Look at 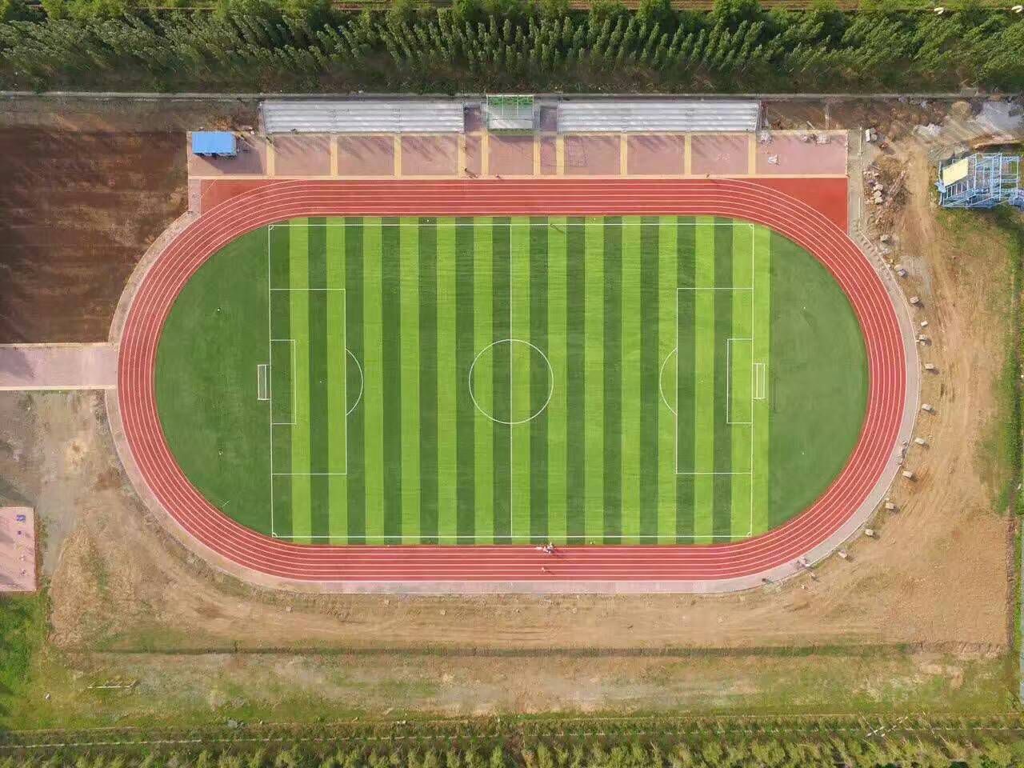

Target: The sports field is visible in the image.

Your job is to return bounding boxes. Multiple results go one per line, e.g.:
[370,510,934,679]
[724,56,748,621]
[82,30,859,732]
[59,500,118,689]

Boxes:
[154,215,869,545]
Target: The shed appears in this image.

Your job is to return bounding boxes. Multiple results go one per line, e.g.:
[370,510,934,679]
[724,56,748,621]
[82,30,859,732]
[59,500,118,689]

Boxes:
[192,132,240,156]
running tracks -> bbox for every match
[117,178,906,581]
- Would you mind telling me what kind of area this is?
sports ground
